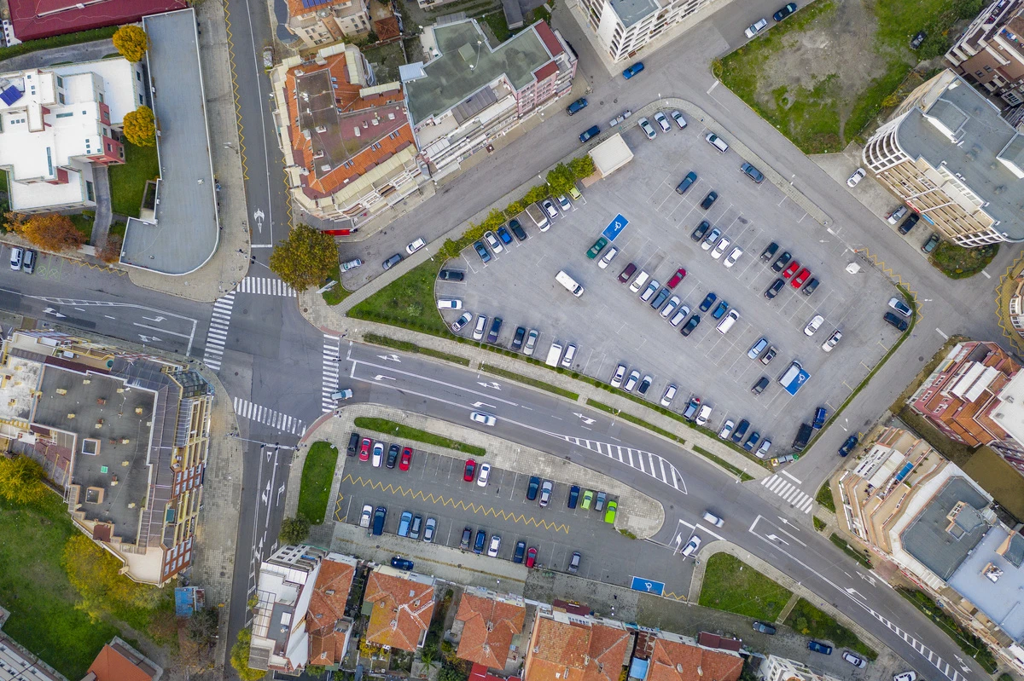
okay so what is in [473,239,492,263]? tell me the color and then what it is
blue car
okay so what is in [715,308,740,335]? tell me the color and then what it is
white vehicle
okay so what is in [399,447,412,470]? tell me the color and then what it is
red vehicle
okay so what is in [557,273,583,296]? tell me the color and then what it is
white vehicle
